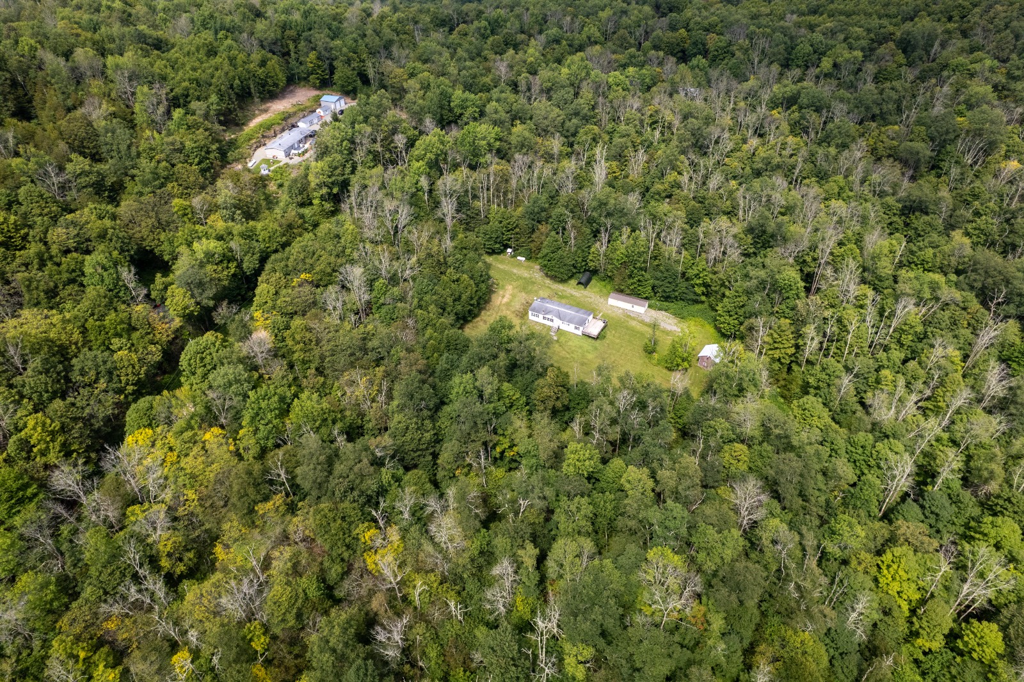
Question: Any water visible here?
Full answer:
No, there's no water in this view.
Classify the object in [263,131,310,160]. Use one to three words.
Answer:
house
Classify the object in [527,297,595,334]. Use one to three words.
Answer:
house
